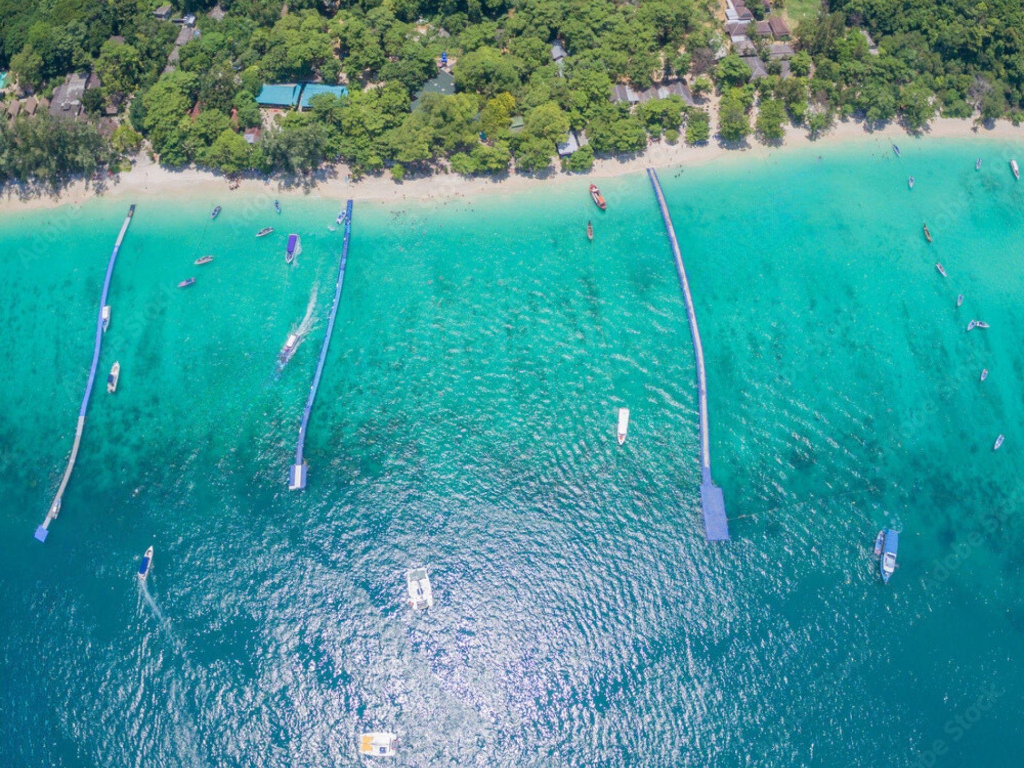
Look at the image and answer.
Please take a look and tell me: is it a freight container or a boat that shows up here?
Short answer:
boat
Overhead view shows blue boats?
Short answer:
Yes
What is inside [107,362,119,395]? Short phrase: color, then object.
white boat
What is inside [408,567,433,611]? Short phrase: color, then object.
white boat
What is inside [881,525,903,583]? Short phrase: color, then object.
blue boat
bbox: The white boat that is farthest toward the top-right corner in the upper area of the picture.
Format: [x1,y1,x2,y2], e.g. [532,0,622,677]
[1008,157,1020,181]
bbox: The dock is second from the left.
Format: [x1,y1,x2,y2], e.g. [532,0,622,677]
[290,200,353,489]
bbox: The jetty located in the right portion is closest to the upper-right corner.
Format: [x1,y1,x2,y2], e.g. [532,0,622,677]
[648,168,728,541]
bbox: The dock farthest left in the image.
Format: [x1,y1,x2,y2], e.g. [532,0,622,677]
[35,205,136,542]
